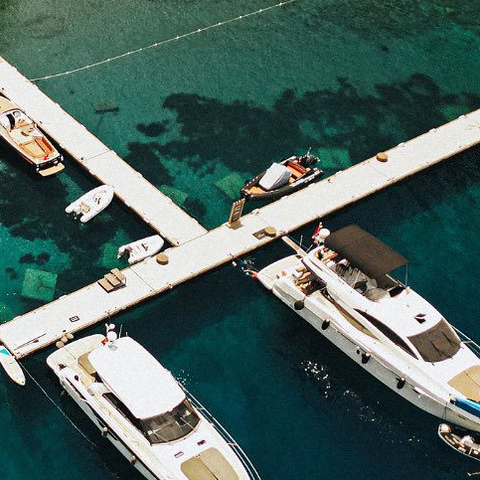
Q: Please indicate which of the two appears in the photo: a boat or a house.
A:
boat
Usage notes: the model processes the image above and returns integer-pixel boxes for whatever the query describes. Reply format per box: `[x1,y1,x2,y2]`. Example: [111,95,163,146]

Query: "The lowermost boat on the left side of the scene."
[52,319,254,480]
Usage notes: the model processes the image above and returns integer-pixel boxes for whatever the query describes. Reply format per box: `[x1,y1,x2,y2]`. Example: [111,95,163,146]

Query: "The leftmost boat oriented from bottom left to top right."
[64,184,116,223]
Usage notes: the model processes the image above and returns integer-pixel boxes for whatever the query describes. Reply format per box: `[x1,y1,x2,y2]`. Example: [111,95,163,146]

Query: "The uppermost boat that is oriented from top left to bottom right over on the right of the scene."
[264,222,480,433]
